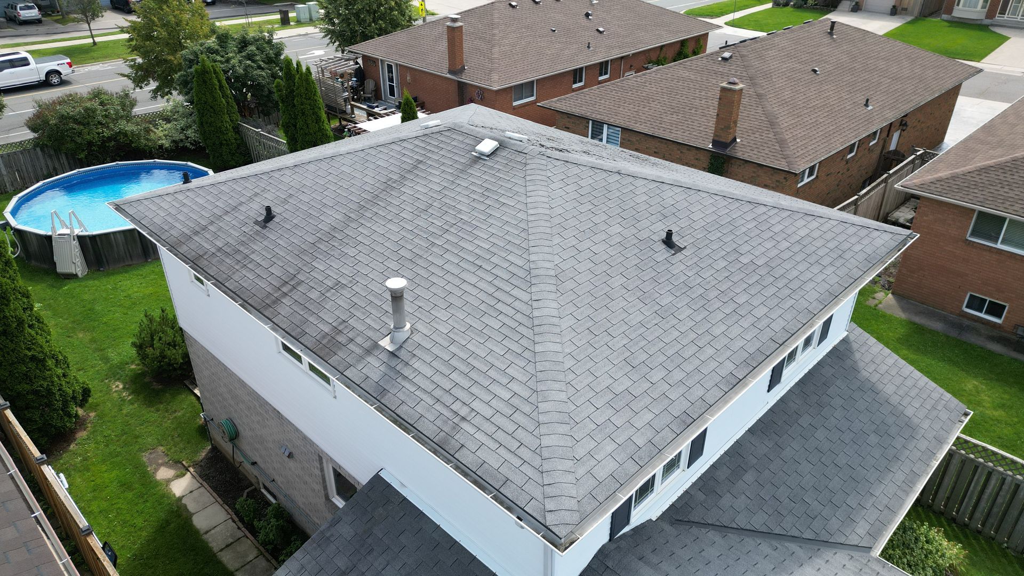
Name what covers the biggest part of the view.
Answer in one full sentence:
For the most part, this view shows buildings.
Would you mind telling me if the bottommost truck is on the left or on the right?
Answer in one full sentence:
The bottommost truck is on the left side of the image.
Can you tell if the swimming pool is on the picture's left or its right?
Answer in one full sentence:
The swimming pool appears in the left half of the scene.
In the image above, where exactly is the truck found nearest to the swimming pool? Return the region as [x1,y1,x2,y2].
[0,52,77,88]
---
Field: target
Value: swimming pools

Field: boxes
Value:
[0,161,206,271]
